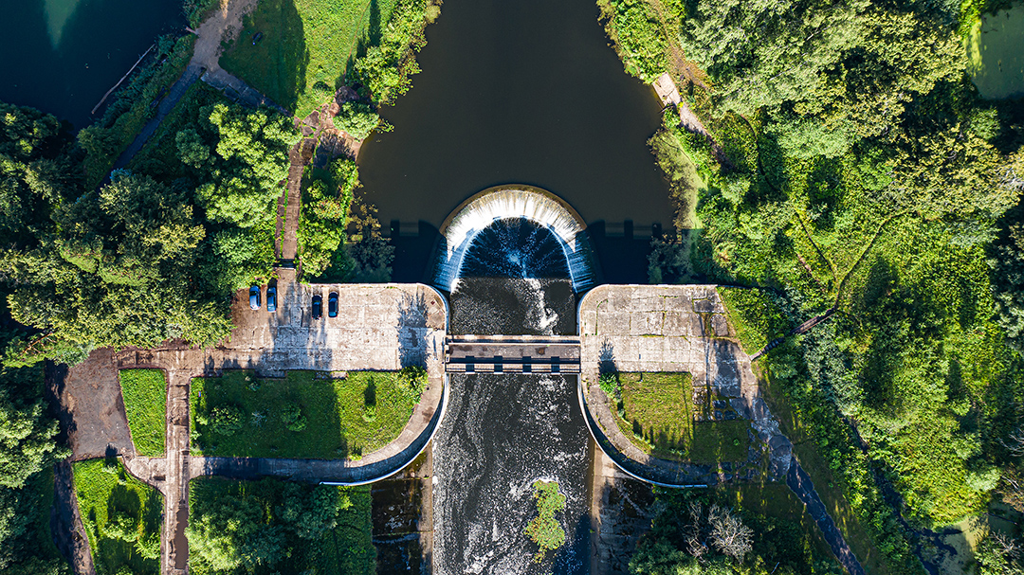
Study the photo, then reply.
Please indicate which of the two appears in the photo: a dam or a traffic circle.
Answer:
dam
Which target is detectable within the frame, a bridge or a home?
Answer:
bridge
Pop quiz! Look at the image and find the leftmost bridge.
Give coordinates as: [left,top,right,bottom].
[447,335,580,374]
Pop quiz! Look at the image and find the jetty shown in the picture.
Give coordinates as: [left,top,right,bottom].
[650,73,679,112]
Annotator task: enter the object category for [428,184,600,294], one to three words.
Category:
dam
